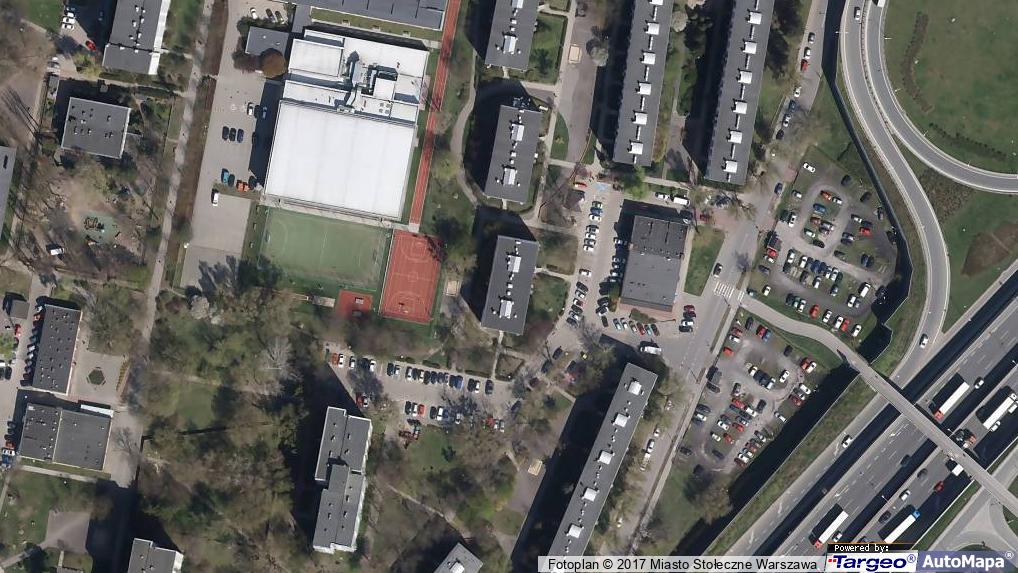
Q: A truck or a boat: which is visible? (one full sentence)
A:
This aerial view contains a truck.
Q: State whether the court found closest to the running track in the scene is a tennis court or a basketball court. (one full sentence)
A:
Looking closely, the court found closest to the running track is a basketball court.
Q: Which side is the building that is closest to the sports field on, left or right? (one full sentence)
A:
The building that is closest to the sports field appears in the left half of the scene.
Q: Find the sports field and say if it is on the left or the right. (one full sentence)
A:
The sports field is on the left side of the image.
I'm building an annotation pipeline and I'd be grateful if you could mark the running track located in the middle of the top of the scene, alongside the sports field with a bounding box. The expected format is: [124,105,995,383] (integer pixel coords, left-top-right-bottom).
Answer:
[409,0,460,232]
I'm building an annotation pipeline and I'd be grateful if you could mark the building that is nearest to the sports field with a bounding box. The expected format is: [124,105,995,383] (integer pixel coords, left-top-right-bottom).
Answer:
[264,30,430,224]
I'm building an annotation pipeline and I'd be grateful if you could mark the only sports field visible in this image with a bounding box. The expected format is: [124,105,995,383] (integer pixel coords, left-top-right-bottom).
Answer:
[257,209,391,291]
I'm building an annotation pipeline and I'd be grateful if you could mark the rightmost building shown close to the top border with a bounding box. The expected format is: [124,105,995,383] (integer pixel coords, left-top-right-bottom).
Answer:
[702,0,776,186]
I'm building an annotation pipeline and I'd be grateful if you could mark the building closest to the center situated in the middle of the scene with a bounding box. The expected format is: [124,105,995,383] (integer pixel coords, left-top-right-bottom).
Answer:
[481,236,541,335]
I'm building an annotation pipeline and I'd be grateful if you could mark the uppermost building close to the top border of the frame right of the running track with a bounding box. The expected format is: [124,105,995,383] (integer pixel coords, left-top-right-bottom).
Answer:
[485,0,543,75]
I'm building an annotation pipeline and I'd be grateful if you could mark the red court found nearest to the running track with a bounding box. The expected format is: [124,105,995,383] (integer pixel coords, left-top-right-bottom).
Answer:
[380,230,441,324]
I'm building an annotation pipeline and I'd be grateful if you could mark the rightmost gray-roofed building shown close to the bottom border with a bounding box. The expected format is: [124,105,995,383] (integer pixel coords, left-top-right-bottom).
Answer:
[540,363,659,573]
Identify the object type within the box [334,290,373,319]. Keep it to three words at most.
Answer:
basketball court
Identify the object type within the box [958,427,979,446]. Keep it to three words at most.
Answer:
vehicle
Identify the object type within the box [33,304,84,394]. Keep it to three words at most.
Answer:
building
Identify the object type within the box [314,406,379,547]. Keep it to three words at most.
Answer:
building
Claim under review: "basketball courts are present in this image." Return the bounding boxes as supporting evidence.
[334,290,373,319]
[380,230,441,324]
